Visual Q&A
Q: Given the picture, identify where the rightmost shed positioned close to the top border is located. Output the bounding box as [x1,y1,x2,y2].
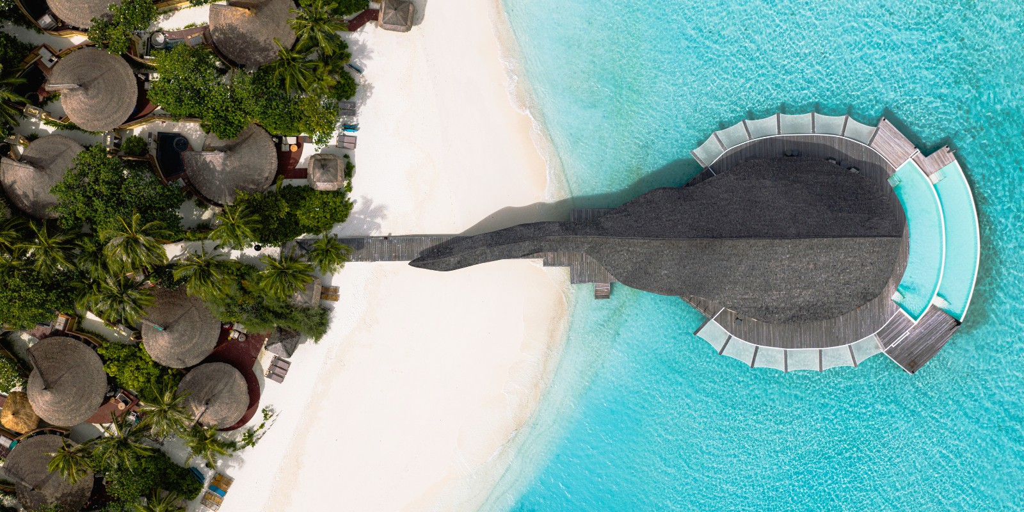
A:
[377,0,416,31]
